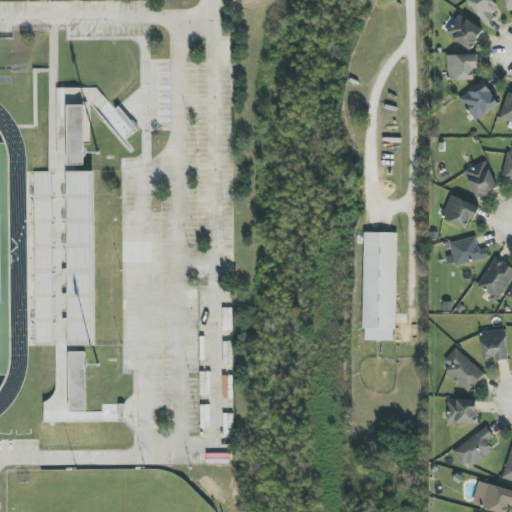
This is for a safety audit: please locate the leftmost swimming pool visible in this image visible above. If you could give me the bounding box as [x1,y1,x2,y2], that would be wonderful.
[464,480,478,502]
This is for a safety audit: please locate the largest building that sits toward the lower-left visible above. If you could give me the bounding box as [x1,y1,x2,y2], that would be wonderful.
[66,352,86,411]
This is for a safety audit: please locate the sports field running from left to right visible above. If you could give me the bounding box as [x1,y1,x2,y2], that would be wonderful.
[6,469,210,512]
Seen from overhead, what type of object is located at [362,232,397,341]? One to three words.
barn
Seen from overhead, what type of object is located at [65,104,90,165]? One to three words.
building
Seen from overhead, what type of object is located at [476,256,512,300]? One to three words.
house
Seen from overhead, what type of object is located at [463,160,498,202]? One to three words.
house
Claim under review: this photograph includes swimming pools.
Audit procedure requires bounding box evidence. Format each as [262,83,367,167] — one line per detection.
[464,480,478,502]
[491,316,502,327]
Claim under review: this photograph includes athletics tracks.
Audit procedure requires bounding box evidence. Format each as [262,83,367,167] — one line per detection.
[0,104,26,416]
